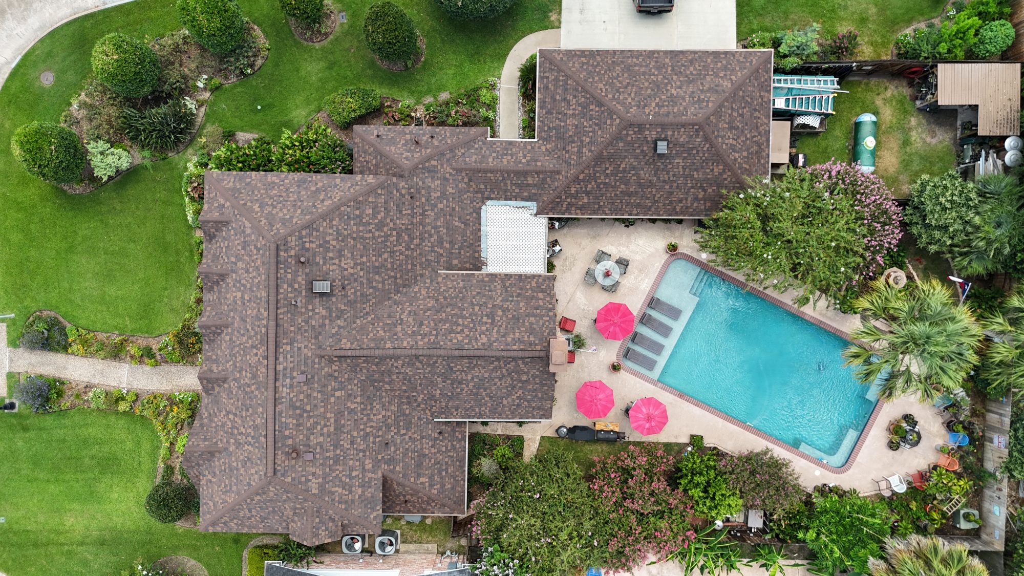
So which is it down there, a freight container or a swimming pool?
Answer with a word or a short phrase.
swimming pool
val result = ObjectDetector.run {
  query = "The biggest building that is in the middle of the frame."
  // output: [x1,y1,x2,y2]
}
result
[181,48,774,546]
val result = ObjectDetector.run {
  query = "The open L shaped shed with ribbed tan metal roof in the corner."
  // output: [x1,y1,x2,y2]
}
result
[912,63,1021,144]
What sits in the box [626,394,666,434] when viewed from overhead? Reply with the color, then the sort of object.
pink umbrella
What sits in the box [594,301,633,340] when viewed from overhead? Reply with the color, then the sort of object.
pink umbrella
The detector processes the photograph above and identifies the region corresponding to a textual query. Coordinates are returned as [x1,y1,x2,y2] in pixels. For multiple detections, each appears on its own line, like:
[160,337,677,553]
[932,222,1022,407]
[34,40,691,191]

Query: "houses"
[253,553,473,576]
[181,48,774,546]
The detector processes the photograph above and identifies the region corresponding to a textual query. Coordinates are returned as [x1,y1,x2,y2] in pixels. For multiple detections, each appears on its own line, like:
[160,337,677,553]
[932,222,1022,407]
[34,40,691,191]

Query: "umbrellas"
[626,394,666,434]
[594,301,633,340]
[574,378,613,417]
